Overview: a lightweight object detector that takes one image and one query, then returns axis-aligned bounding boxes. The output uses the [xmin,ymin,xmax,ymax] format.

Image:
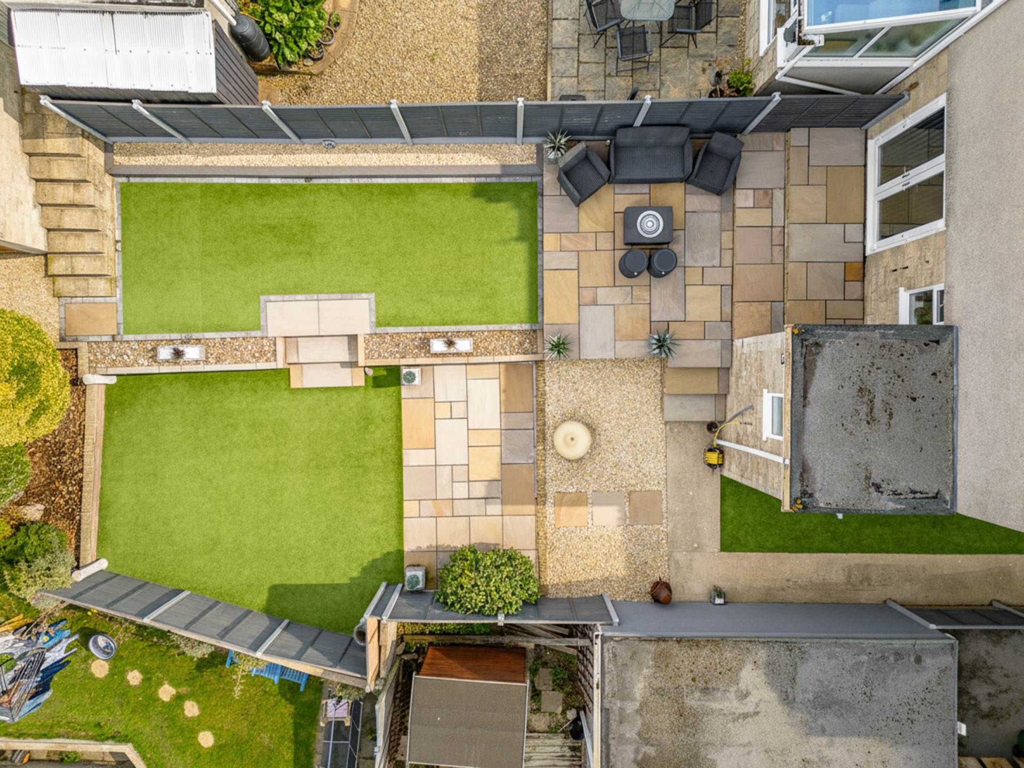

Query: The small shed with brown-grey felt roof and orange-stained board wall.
[407,646,528,768]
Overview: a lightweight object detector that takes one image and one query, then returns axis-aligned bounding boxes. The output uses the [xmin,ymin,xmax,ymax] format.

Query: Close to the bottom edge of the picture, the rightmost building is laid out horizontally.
[589,599,958,768]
